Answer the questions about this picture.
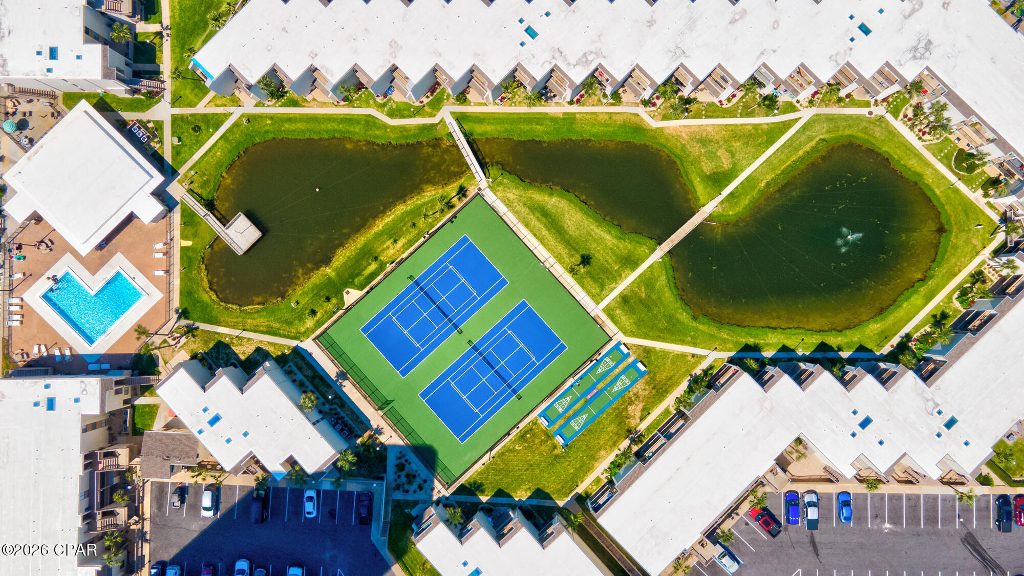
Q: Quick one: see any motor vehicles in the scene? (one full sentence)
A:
Yes, the photo shows a motor vehicle.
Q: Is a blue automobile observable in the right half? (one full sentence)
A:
Yes, the scene does show a blue automobile in the right half.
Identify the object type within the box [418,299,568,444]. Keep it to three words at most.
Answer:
tennis court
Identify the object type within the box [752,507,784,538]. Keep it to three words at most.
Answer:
vehicle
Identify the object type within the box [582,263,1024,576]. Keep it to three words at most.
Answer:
building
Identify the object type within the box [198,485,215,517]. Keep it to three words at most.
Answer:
car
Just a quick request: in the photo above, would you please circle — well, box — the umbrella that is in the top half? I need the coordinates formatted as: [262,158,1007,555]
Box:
[2,118,20,134]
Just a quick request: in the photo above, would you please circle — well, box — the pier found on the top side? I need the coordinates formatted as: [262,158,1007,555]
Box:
[178,191,263,255]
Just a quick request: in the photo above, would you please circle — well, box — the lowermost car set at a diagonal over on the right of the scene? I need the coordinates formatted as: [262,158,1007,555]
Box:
[716,545,739,572]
